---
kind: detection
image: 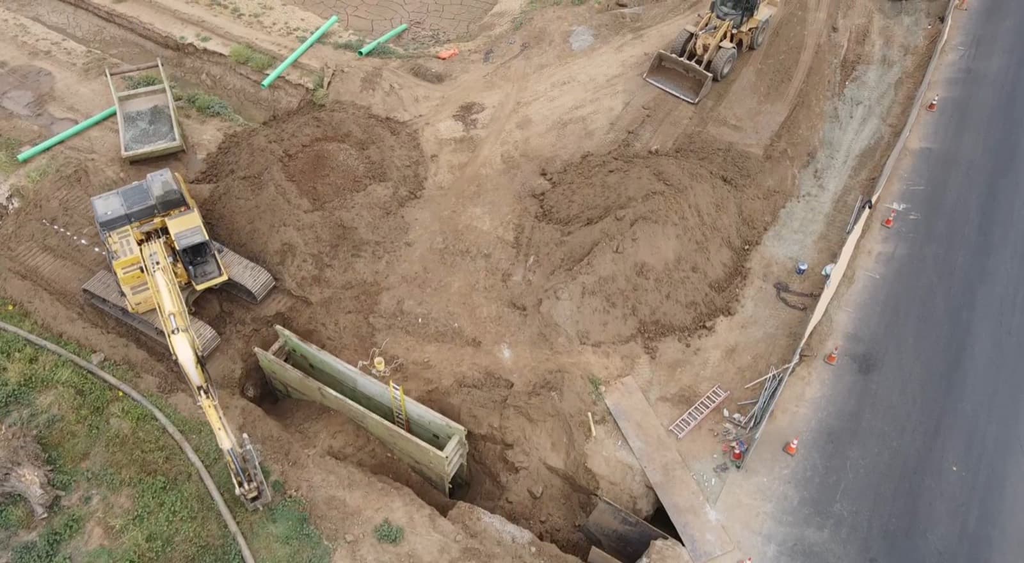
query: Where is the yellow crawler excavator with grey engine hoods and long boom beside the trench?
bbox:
[77,170,280,508]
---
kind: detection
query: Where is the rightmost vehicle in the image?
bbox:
[643,0,789,105]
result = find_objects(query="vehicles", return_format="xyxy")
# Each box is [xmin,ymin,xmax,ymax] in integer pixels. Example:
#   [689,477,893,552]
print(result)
[643,0,789,105]
[77,170,280,508]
